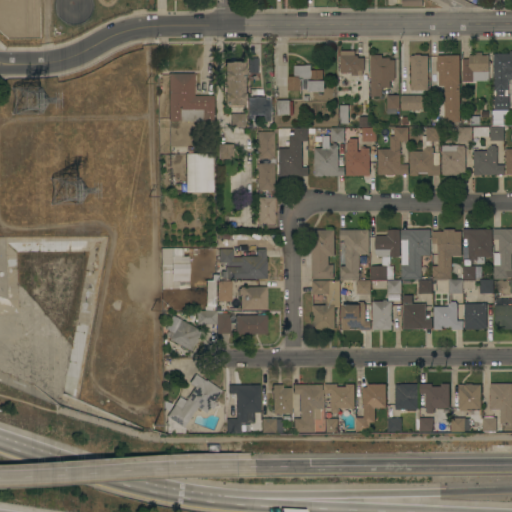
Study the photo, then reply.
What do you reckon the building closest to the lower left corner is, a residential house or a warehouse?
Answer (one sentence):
The building closest to the lower left corner is a residential house.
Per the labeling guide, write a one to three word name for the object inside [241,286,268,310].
house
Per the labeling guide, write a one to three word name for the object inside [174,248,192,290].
greenhouse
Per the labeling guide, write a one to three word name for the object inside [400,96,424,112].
building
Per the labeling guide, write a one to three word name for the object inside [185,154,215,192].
building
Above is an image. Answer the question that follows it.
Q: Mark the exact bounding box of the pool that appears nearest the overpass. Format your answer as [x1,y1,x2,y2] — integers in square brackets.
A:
[195,415,219,430]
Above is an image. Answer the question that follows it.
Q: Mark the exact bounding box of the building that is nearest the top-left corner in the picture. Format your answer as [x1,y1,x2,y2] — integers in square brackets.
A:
[168,72,215,122]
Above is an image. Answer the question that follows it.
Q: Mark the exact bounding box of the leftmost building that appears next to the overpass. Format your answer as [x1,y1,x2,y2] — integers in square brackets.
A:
[168,376,222,428]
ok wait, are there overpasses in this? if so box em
[0,452,257,488]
